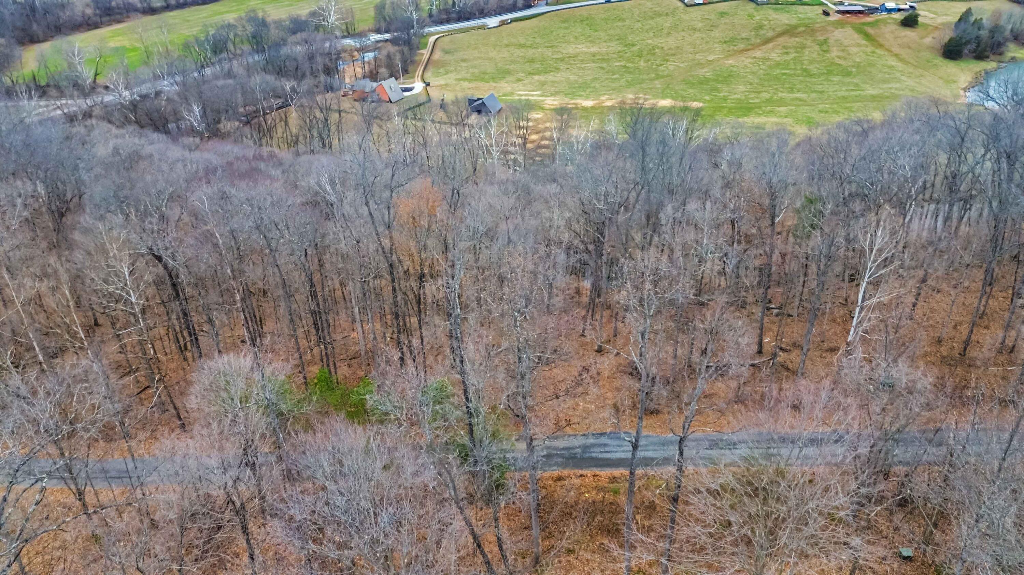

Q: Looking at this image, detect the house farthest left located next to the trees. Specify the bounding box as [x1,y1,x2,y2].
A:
[343,75,409,106]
